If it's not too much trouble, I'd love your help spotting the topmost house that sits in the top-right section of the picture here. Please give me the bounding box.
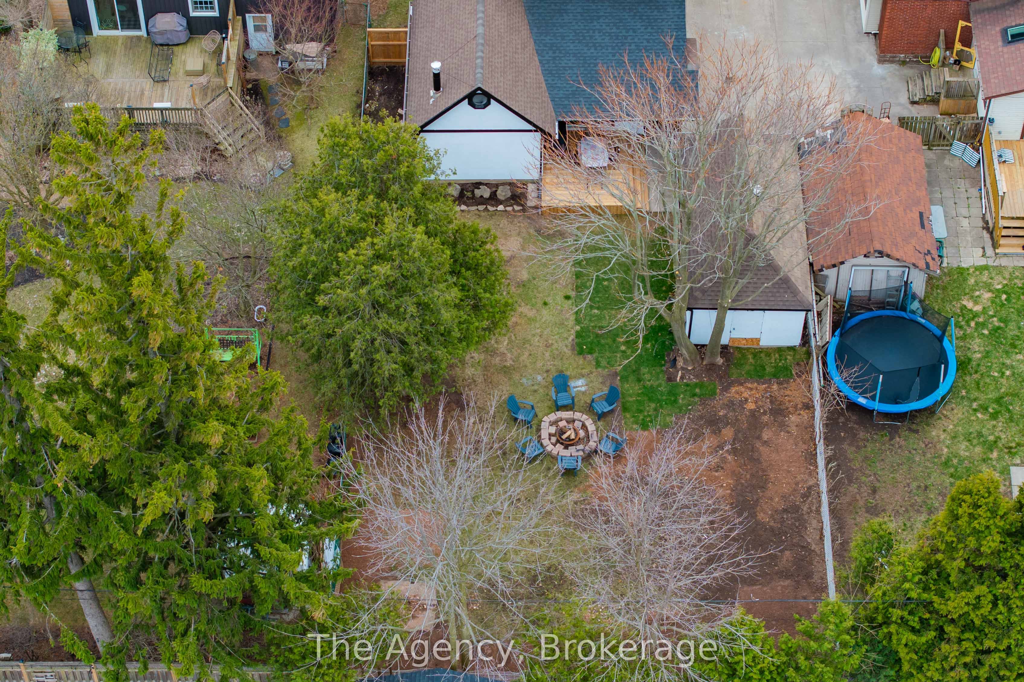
[860,0,994,65]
